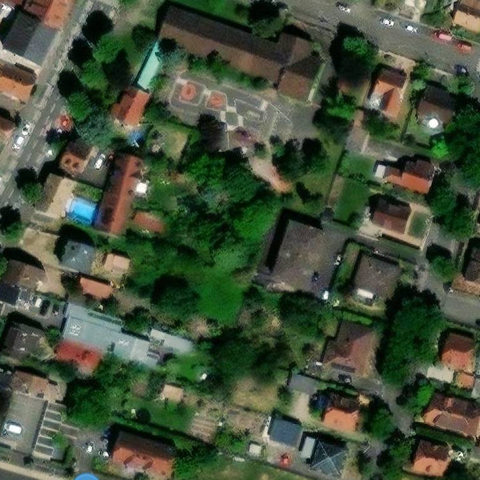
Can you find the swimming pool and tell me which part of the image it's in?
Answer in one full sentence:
The swimming pool is located in the left region of the scene.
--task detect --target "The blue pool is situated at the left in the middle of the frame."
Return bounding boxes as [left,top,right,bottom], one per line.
[69,197,103,225]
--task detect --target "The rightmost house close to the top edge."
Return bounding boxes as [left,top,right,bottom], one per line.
[446,0,480,29]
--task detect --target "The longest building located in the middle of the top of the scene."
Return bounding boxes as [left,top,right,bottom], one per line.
[155,1,316,100]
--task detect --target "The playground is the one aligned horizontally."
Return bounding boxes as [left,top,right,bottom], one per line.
[168,77,323,145]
